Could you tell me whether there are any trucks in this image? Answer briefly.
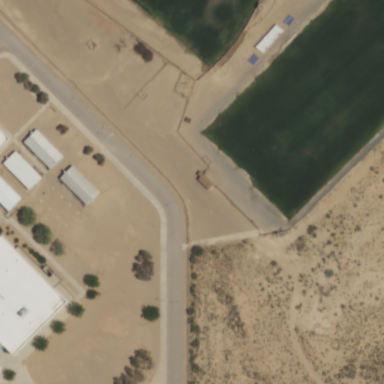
No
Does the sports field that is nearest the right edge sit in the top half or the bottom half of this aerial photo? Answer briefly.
top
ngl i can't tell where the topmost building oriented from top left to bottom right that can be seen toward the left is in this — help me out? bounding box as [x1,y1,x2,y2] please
[24,129,62,169]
